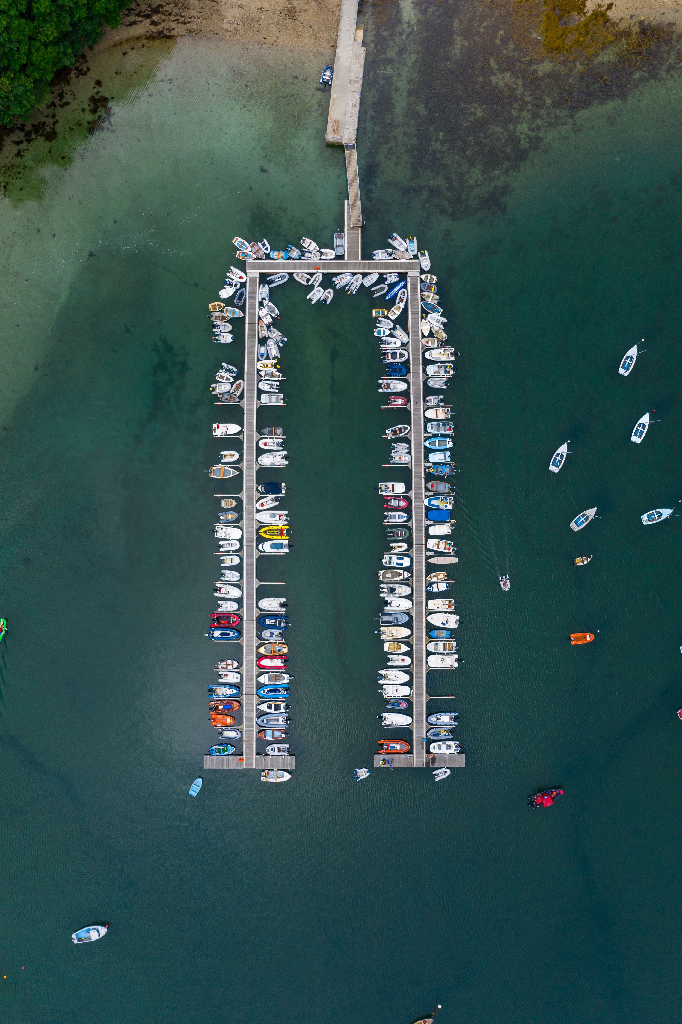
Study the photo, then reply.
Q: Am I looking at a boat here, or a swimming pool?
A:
boat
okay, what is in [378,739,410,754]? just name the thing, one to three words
boat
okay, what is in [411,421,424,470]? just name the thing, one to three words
pier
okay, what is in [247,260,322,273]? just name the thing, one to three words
pier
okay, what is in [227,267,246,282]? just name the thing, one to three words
boat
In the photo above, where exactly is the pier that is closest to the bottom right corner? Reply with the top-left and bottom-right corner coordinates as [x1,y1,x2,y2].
[426,753,465,767]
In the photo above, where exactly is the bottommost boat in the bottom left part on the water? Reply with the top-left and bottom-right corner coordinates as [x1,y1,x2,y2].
[69,927,107,944]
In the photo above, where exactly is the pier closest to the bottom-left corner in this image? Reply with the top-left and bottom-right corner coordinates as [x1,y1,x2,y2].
[204,755,243,769]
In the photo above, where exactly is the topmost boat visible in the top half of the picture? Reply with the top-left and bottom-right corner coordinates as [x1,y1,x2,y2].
[320,64,333,86]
